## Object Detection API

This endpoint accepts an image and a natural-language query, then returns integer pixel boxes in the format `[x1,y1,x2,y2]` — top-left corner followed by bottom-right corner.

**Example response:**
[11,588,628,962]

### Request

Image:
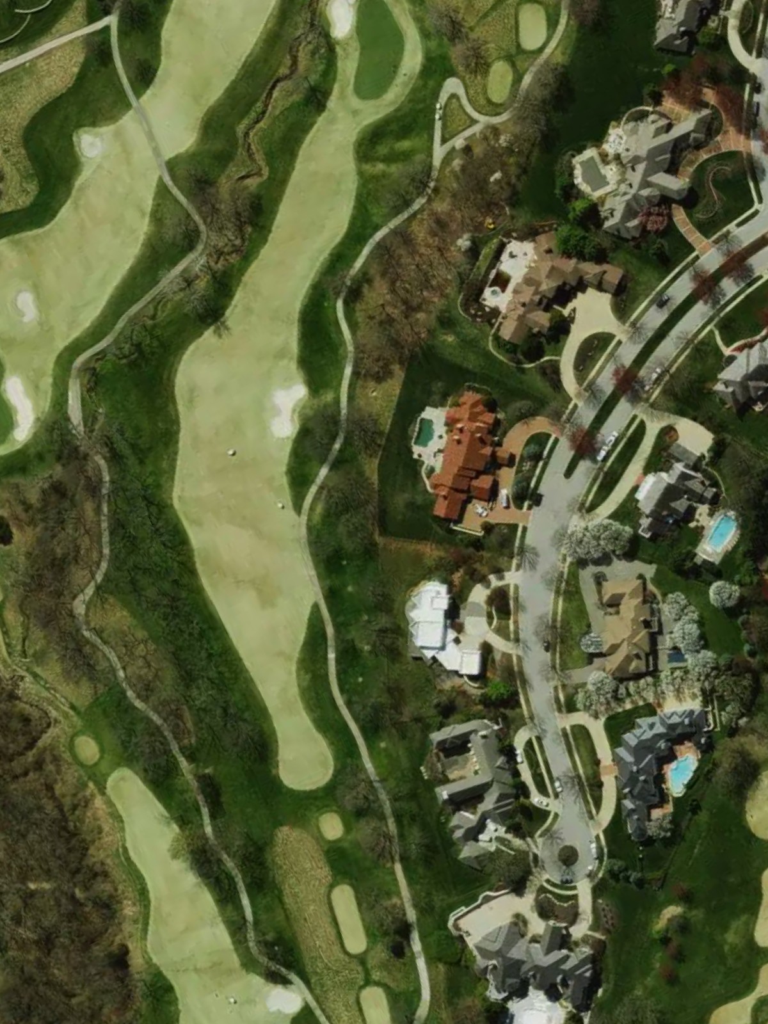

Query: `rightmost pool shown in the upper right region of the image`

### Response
[579,156,608,192]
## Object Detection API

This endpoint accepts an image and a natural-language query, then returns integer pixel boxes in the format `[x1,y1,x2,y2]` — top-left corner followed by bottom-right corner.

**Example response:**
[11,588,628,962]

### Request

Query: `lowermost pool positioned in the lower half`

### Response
[670,754,699,796]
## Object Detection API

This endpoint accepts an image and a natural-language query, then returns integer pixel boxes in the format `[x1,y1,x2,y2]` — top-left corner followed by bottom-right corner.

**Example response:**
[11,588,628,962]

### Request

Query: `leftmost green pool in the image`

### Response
[414,418,435,446]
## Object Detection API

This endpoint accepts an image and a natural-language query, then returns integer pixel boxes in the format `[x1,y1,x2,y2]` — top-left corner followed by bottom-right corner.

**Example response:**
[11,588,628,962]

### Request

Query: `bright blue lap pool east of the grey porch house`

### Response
[695,511,741,561]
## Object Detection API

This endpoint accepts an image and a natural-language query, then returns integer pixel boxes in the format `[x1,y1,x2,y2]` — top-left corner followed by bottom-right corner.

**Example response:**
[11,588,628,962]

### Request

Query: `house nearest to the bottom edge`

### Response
[471,916,598,1014]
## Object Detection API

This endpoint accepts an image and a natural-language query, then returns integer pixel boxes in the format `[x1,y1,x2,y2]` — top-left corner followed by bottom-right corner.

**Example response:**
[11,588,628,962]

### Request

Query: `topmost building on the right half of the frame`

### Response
[648,0,719,56]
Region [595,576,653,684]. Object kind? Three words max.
house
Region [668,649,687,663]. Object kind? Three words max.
swimming pool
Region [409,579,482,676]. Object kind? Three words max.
house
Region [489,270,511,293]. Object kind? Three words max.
swimming pool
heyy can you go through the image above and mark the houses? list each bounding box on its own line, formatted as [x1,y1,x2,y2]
[471,916,598,1014]
[498,232,628,347]
[611,708,714,844]
[429,388,512,523]
[648,0,719,56]
[607,107,717,241]
[428,714,518,873]
[635,440,722,535]
[595,576,653,684]
[409,579,482,676]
